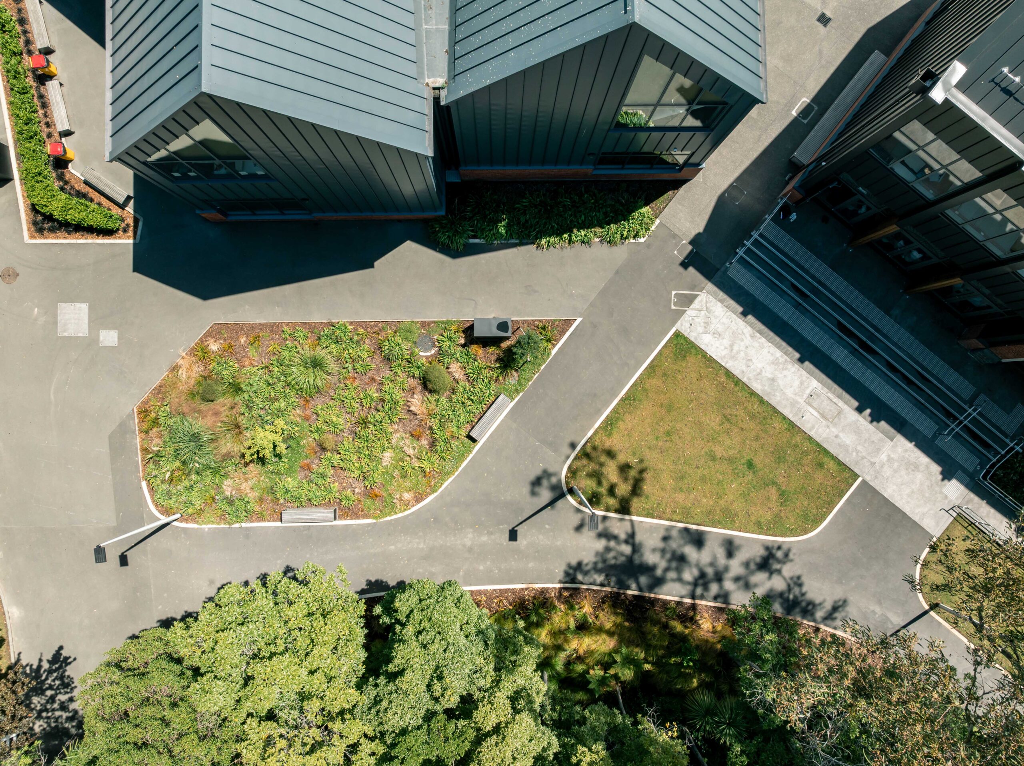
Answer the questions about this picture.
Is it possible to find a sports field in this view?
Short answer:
No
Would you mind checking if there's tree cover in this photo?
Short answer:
Yes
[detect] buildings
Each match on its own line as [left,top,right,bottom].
[782,0,1024,347]
[444,0,763,180]
[103,0,448,221]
